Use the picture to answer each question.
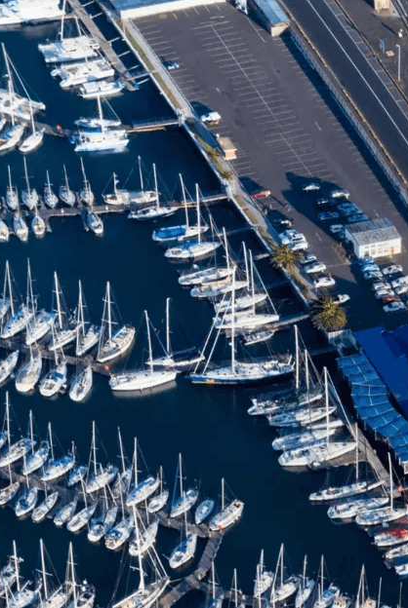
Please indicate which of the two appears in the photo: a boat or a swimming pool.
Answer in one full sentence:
This aerial view contains a boat.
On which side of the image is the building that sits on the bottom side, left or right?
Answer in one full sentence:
The building that sits on the bottom side appears in the right half of the scene.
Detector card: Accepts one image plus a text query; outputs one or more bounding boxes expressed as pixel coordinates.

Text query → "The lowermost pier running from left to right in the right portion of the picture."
[192,571,313,608]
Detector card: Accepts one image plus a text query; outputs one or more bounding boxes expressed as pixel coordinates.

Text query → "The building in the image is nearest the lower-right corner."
[329,321,408,481]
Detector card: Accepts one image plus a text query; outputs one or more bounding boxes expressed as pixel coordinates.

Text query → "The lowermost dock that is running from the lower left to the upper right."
[143,525,228,608]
